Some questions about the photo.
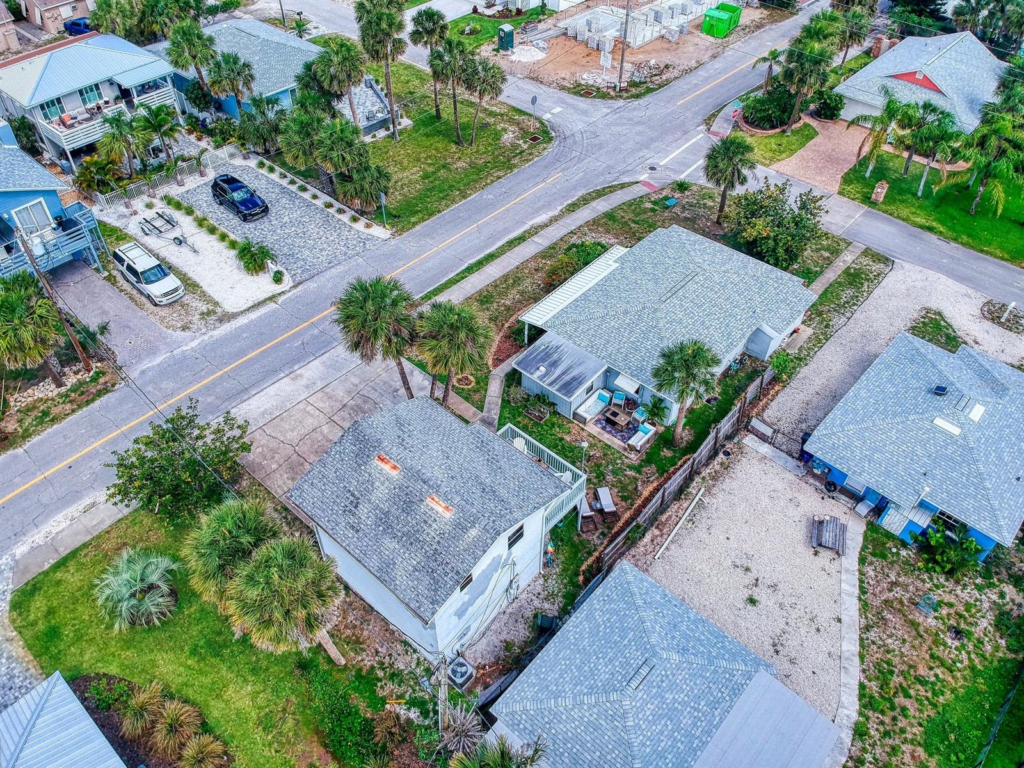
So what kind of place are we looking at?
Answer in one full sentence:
This image shows a residential area.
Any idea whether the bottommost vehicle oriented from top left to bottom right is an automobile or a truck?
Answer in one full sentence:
What you see as the bottommost vehicle oriented from top left to bottom right is an automobile.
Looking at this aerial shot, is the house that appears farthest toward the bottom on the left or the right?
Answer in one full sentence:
The house that appears farthest toward the bottom sits on the left side.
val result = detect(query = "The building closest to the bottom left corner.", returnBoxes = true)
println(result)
[0,671,132,768]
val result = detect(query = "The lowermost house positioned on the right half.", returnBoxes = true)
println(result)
[488,561,872,768]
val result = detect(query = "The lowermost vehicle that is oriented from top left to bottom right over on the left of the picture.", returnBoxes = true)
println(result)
[110,237,190,307]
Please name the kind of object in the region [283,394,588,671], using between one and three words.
house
